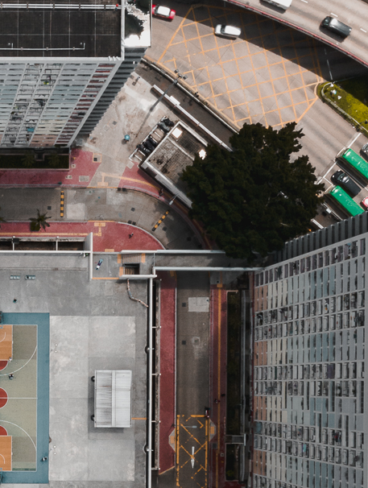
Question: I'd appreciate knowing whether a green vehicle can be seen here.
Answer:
Yes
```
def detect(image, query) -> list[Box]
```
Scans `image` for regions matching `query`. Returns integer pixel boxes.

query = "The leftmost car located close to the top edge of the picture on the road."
[150,5,177,21]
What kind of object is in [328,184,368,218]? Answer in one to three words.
vehicle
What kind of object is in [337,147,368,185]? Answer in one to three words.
vehicle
